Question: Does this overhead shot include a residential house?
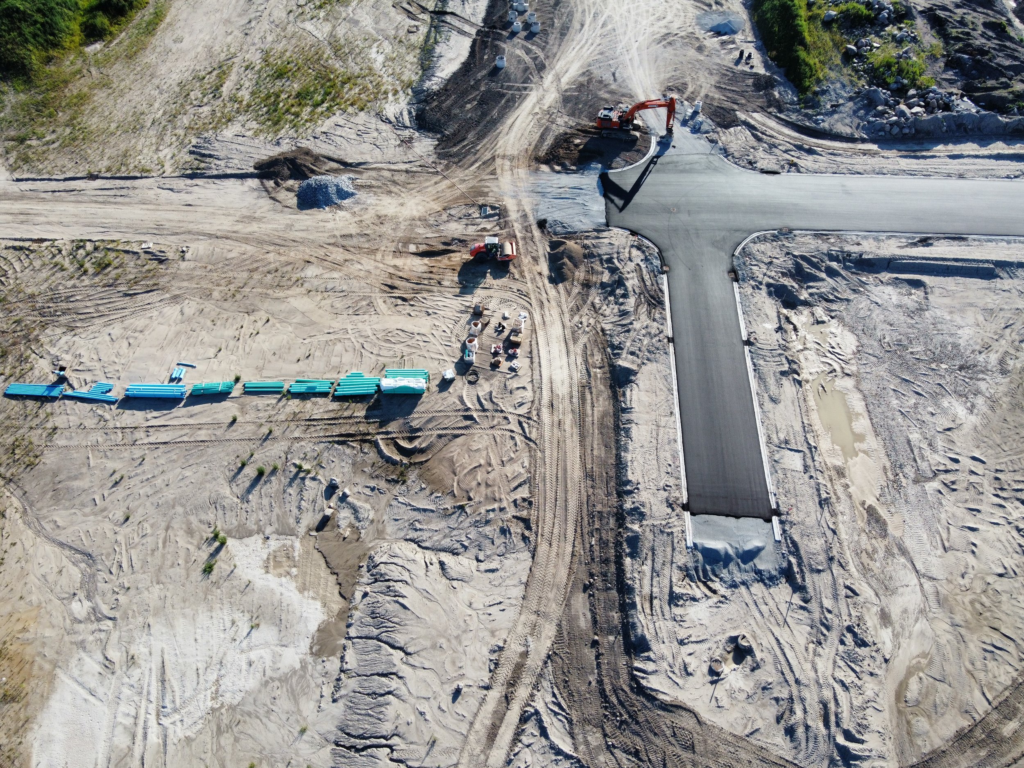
No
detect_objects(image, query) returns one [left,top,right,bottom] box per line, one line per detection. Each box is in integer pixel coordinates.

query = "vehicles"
[469,233,518,264]
[597,95,680,143]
